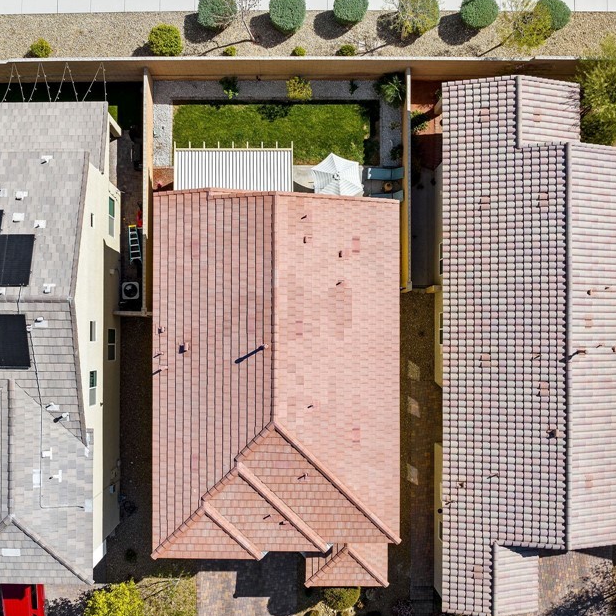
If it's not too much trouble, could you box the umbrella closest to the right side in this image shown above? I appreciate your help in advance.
[311,149,362,195]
